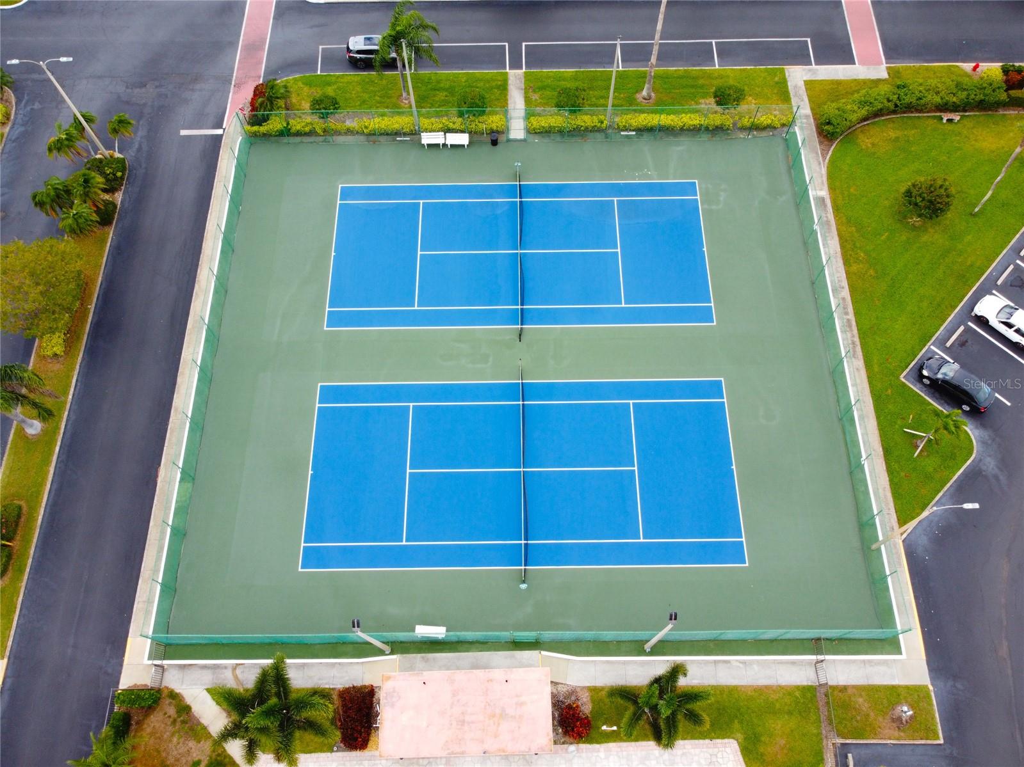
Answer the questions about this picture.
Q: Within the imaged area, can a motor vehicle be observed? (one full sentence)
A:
Yes, this view includes a motor vehicle.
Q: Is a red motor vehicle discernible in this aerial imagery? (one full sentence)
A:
No, no red motor vehicle is visible in the view.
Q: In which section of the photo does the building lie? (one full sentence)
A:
The building is in the bottom part of the image.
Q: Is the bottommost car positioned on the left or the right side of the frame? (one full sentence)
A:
The bottommost car appears in the right half of the scene.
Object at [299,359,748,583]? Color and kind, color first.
blue tennis court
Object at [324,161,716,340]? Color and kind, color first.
blue tennis court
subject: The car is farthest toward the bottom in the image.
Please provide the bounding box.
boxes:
[919,352,1002,412]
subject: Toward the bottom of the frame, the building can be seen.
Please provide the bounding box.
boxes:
[379,666,554,762]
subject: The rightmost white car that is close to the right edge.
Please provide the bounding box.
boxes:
[969,294,1024,352]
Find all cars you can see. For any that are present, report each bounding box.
[346,33,398,68]
[919,352,1002,412]
[969,294,1024,352]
